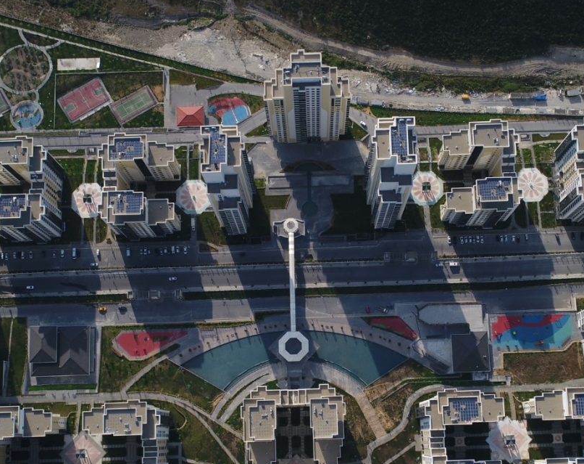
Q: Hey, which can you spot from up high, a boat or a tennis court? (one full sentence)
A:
The image shows a tennis court.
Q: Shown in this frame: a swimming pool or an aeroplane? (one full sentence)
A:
The one in the frame is a swimming pool.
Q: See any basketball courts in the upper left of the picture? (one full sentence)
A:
Yes, I can see a basketball court in the upper left of the picture.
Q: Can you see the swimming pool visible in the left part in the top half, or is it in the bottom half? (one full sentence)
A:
The swimming pool visible in the left part is in the bottom half of the image.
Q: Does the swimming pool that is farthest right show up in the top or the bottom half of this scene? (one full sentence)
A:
The swimming pool that is farthest right is in the bottom half of the image.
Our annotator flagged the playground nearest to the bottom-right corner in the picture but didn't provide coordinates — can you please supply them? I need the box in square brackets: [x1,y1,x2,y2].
[491,312,573,349]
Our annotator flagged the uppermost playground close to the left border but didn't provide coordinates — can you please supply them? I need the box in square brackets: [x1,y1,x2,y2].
[13,104,40,128]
